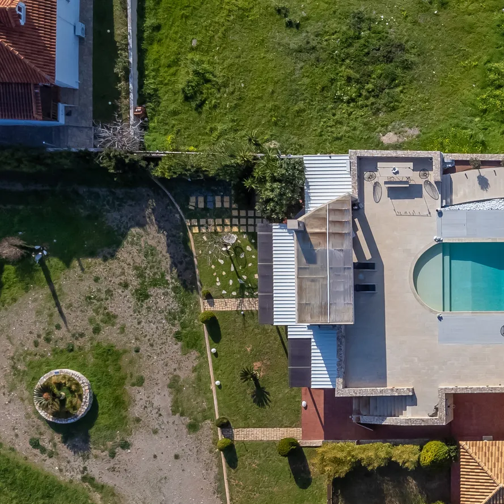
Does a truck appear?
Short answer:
No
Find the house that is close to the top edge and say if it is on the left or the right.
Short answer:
left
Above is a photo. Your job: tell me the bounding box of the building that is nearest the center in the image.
[284,194,363,325]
